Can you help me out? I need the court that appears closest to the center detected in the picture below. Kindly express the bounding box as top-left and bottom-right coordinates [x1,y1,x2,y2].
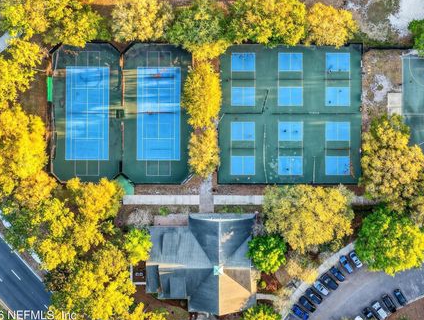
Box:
[231,122,255,176]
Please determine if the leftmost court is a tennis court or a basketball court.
tennis court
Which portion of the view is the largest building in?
bottom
